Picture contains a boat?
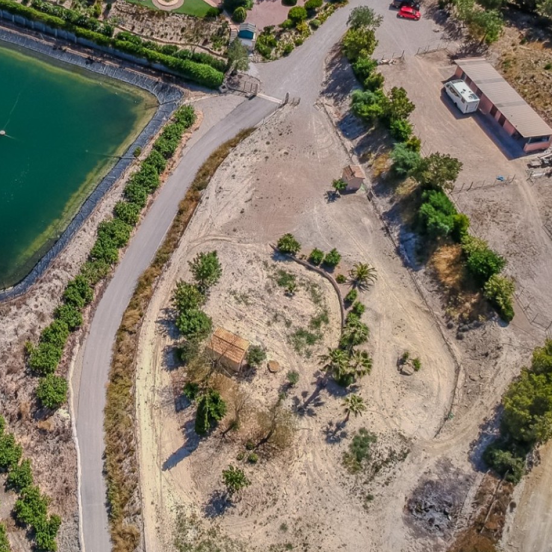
No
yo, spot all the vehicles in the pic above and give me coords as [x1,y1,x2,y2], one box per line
[446,78,487,114]
[397,6,422,19]
[392,0,422,10]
